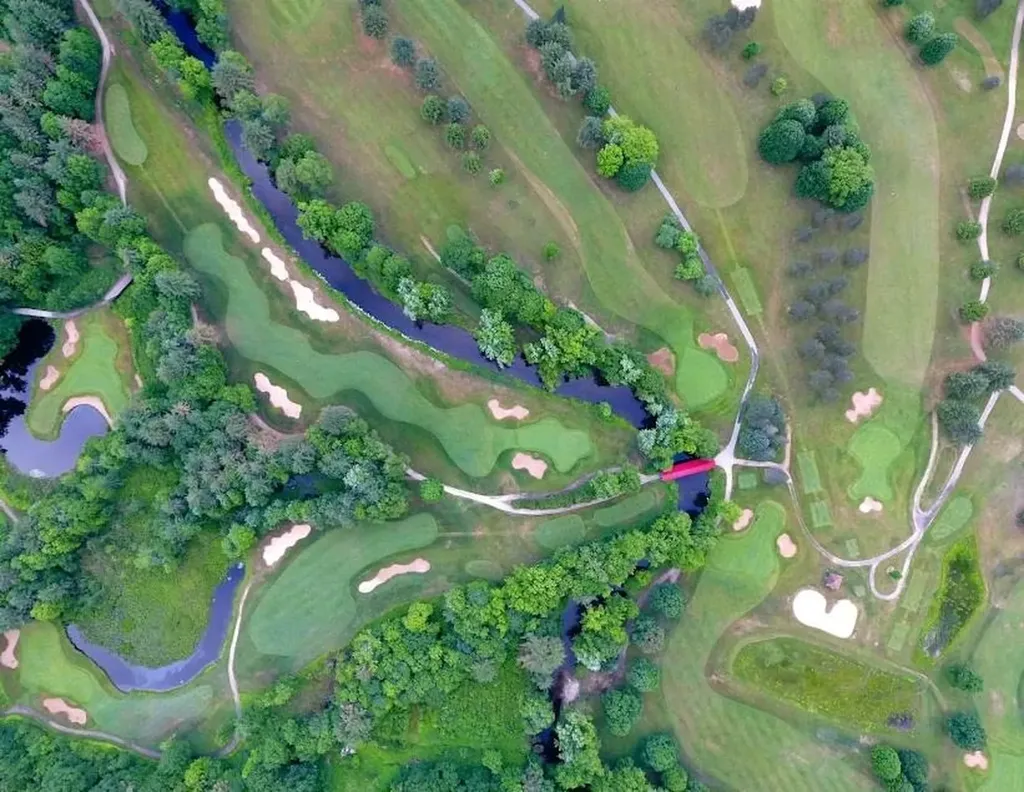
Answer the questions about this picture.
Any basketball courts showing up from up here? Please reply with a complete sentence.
No, I find no basketball court anywhere in the image.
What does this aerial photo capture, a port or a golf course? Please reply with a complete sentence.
The area seen from above is a golf course.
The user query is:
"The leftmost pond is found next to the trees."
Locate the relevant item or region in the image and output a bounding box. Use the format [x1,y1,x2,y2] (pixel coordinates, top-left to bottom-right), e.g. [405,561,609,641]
[0,317,104,477]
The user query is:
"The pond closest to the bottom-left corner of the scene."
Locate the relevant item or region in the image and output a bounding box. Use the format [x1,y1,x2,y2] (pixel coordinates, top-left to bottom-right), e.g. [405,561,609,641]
[68,559,248,691]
